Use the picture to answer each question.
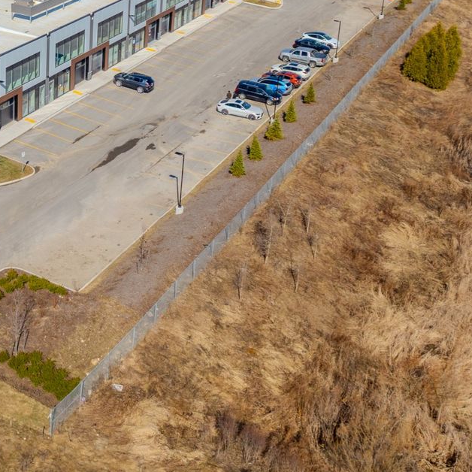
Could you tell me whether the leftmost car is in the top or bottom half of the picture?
top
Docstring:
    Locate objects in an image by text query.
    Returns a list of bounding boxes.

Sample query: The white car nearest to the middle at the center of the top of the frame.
[218,96,268,120]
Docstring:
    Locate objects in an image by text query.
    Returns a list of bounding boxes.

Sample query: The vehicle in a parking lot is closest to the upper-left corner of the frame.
[113,72,157,93]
